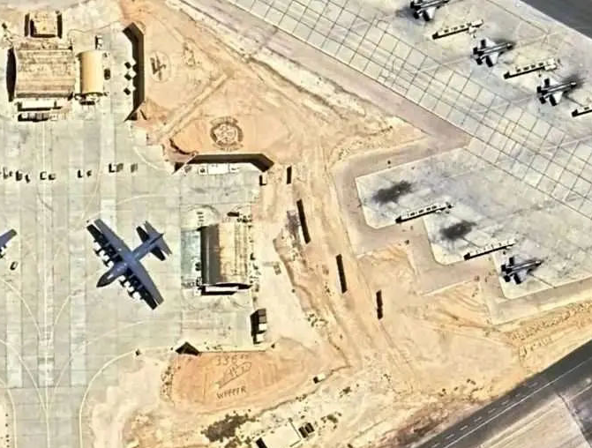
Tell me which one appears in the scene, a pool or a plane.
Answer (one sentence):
The one in the frame is a plane.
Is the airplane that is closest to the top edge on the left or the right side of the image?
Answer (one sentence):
The airplane that is closest to the top edge appears in the right half of the scene.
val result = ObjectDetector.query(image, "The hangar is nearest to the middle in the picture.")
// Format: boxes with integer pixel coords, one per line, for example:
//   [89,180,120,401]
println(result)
[200,222,246,288]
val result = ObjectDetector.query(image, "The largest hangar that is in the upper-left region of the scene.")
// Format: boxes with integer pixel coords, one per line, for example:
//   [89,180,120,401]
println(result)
[11,52,74,98]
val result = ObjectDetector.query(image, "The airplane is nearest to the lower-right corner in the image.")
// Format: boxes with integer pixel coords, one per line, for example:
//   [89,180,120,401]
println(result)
[500,256,540,283]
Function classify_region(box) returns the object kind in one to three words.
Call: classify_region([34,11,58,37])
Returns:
building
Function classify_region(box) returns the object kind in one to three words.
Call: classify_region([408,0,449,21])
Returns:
airplane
